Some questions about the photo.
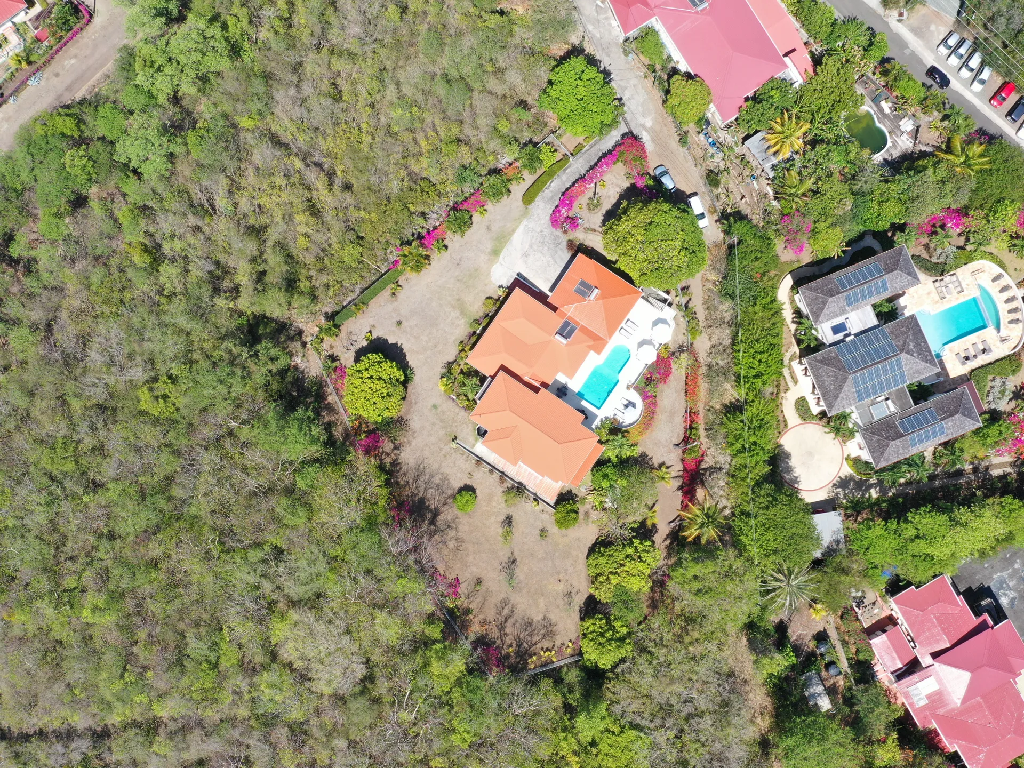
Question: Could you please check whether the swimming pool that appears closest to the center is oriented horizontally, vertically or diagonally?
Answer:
diagonally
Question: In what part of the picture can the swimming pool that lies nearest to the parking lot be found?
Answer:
top right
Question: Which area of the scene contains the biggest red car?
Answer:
top right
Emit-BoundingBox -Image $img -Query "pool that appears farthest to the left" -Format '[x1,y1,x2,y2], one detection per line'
[576,345,631,409]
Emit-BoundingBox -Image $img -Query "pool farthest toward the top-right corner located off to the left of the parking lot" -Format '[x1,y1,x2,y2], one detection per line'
[837,104,889,157]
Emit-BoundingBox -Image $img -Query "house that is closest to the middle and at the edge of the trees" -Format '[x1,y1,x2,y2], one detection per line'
[466,253,643,502]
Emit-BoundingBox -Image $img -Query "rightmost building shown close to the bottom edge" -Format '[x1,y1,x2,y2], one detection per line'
[847,576,1024,768]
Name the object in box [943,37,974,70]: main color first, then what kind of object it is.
white car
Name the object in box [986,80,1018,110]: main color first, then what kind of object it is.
red car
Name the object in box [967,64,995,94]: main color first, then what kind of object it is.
white car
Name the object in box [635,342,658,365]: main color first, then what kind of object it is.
white umbrella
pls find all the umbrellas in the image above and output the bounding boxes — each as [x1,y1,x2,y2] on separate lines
[649,321,673,345]
[624,405,637,417]
[635,342,658,365]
